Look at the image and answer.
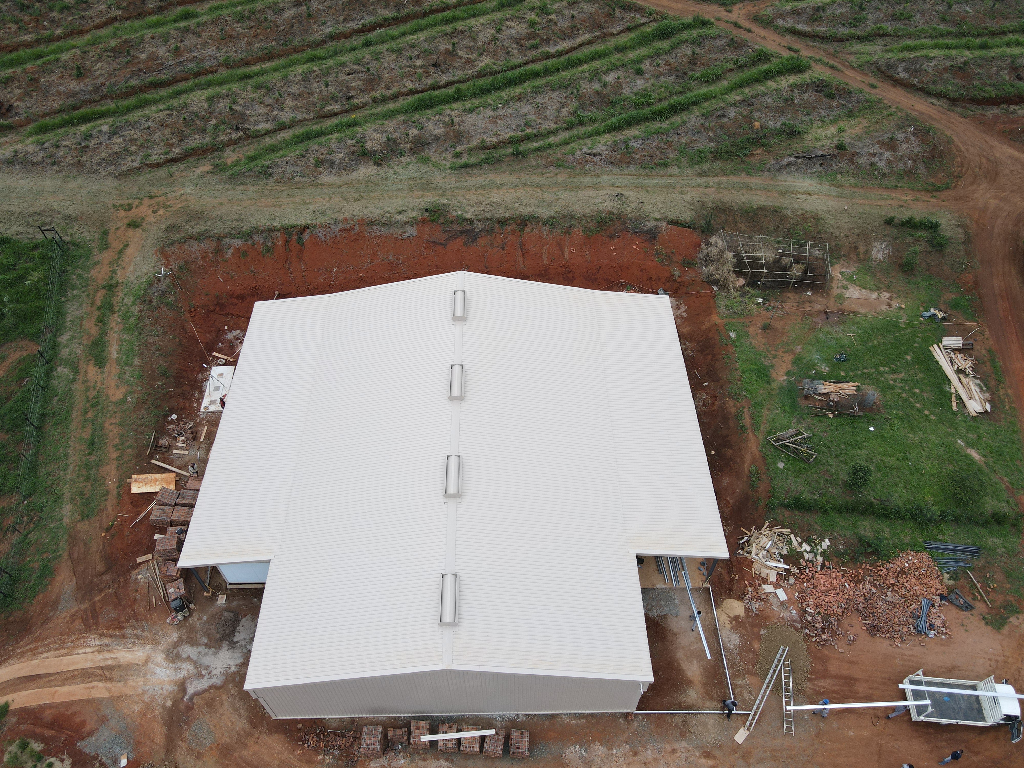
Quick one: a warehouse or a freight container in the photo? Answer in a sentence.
I can see a warehouse in this picture.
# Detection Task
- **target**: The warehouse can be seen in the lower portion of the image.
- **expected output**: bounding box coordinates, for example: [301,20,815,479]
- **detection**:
[175,270,729,720]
